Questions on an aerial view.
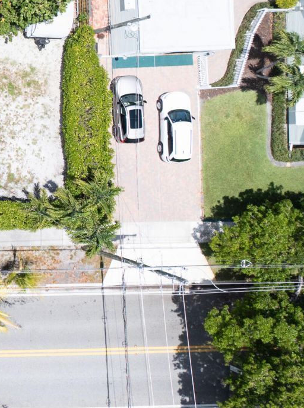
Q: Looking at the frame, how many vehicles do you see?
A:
2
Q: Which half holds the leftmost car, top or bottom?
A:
top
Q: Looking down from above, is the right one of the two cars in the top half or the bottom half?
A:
top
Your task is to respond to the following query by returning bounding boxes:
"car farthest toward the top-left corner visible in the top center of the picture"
[109,74,146,143]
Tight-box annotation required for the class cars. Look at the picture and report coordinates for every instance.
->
[155,92,194,161]
[109,74,146,143]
